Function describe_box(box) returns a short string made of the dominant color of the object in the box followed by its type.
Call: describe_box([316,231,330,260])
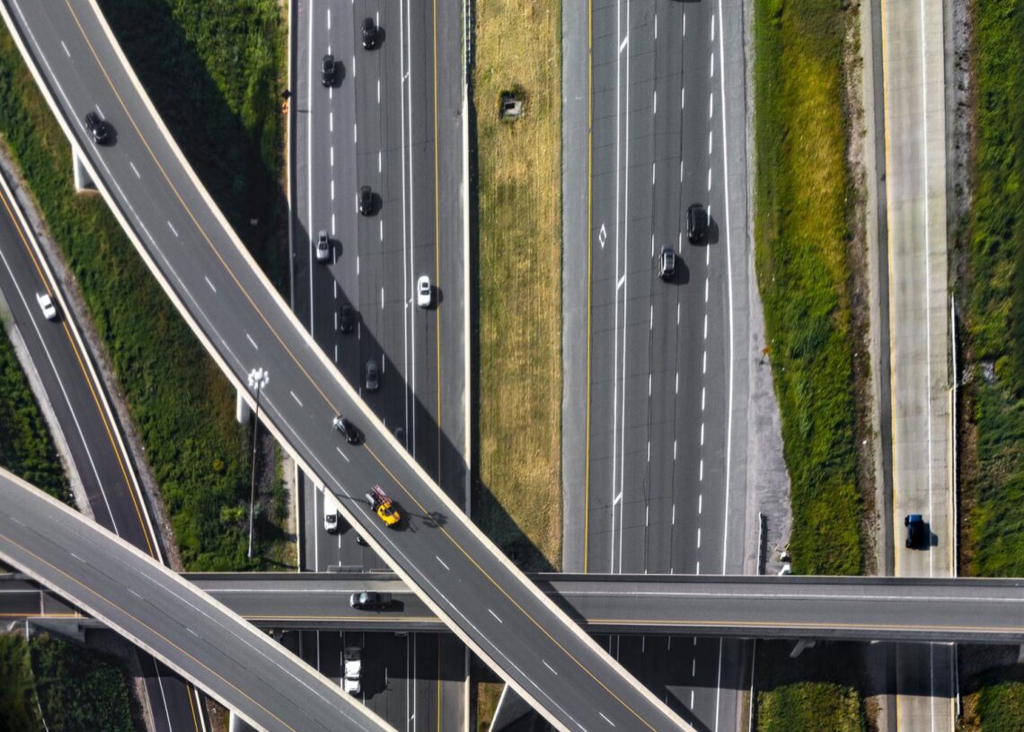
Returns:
gray car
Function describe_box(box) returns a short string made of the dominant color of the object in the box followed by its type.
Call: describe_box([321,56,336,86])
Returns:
black car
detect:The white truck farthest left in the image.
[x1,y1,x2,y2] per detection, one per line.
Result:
[35,288,59,324]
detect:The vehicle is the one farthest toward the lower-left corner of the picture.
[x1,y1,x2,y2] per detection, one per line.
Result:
[345,646,361,694]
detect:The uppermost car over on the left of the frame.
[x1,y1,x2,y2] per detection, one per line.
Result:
[362,16,376,49]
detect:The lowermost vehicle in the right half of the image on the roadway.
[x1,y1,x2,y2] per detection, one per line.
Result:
[904,516,924,547]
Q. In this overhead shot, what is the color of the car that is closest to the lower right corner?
black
